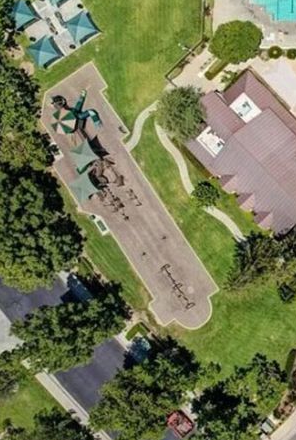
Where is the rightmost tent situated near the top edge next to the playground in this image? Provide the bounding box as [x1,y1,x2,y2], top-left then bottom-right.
[65,11,107,45]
